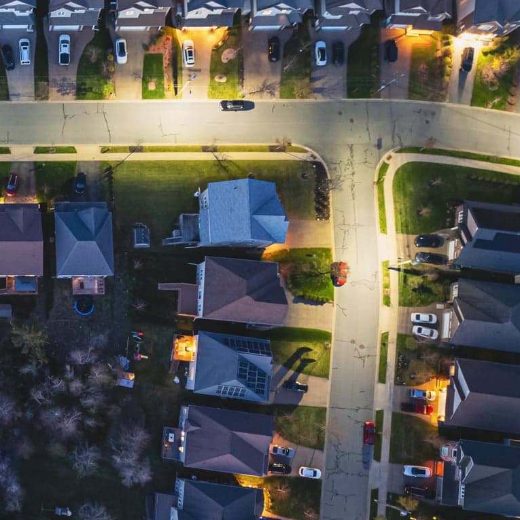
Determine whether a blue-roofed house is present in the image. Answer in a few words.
Yes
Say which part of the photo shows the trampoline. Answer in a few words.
left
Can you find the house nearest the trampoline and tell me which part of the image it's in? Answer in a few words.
left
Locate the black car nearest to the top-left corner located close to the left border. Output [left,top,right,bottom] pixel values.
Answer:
[1,45,14,72]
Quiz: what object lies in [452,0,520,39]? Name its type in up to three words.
house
